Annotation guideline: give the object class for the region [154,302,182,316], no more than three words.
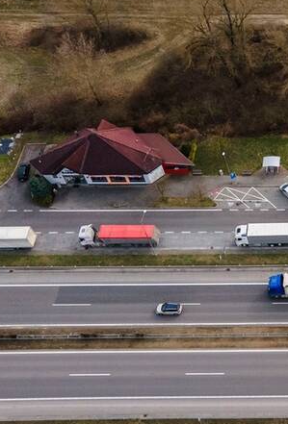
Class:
car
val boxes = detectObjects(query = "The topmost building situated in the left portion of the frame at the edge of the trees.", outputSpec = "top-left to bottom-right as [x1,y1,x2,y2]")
[30,120,196,184]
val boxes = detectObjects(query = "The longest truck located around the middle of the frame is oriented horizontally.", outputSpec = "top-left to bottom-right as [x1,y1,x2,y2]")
[77,224,159,248]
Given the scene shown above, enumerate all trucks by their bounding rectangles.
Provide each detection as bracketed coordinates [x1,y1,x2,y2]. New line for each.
[267,272,288,297]
[232,221,288,246]
[77,224,159,248]
[0,224,39,249]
